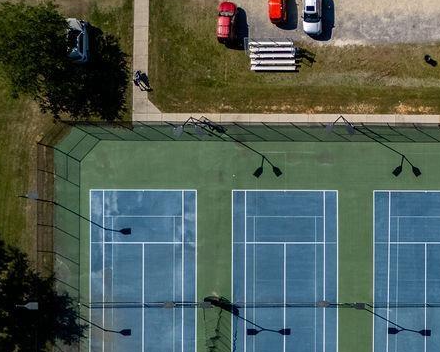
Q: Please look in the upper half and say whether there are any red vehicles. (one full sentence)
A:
Yes, you'll find a red vehicle in the upper half.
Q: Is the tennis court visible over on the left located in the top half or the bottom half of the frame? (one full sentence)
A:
The bottom half of the photo is where the tennis court visible over on the left is.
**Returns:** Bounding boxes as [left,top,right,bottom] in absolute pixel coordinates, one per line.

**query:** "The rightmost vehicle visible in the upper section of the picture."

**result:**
[301,0,324,37]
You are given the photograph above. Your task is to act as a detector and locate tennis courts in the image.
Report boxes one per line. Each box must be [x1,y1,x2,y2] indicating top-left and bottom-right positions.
[89,190,197,352]
[372,191,440,352]
[231,152,338,352]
